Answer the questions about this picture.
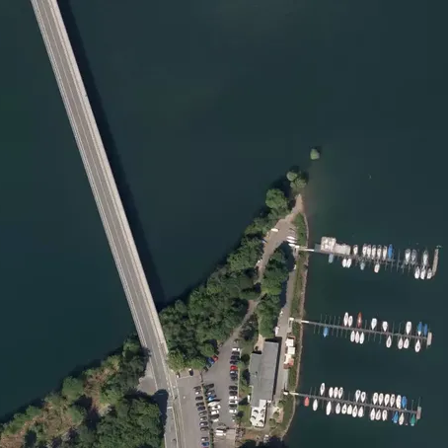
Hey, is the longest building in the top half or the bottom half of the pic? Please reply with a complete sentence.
The longest building sits in the bottom half of the picture.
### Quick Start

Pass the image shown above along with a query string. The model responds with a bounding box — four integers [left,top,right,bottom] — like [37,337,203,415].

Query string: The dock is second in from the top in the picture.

[293,313,433,346]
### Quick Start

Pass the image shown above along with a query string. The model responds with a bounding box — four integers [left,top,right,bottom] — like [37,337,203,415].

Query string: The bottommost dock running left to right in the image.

[289,385,421,420]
